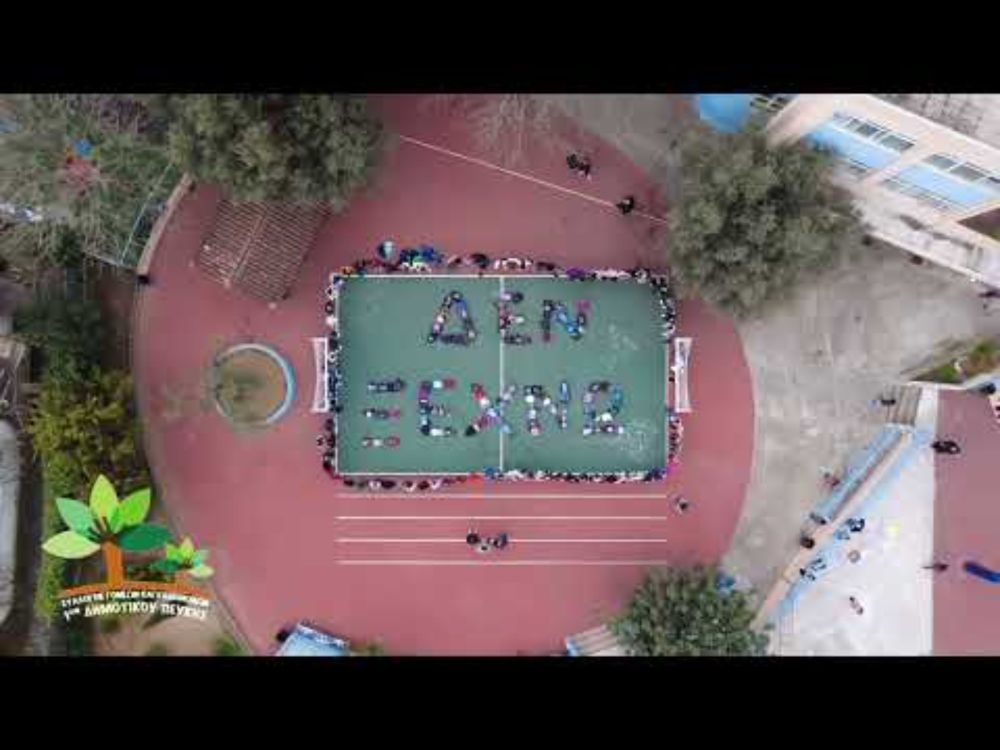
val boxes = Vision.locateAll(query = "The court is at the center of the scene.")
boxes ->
[337,273,668,476]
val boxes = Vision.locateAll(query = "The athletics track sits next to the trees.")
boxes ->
[337,494,667,563]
